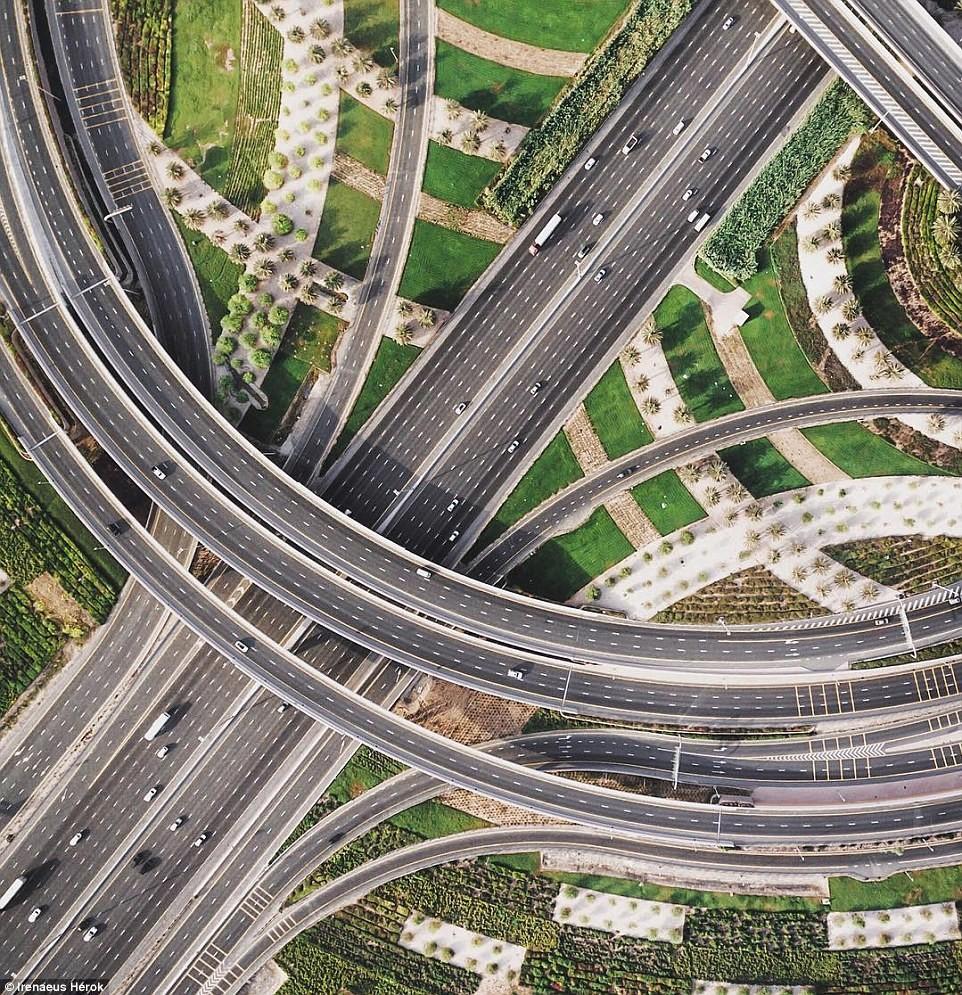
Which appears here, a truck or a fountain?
truck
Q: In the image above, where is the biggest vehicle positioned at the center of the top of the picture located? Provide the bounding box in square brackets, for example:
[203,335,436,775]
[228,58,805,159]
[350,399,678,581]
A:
[531,209,565,252]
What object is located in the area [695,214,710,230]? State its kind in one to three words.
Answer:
vehicle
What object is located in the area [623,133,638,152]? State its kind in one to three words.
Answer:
vehicle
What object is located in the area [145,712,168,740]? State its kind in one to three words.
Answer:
truck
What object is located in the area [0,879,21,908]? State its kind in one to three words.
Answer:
truck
